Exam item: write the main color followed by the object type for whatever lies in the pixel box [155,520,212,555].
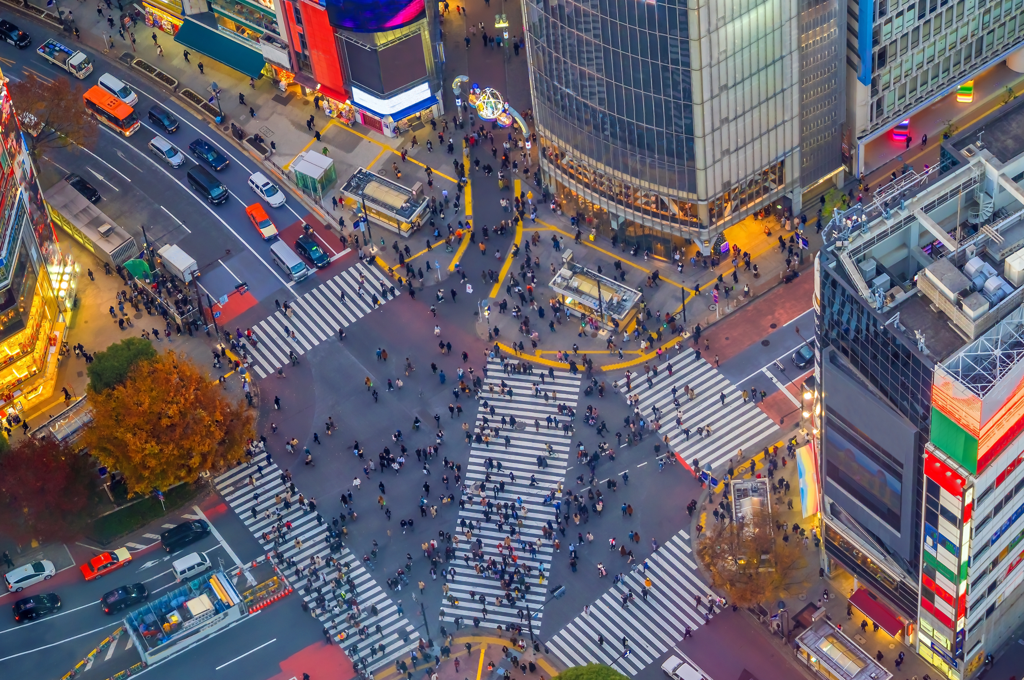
black van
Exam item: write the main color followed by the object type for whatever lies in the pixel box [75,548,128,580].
red car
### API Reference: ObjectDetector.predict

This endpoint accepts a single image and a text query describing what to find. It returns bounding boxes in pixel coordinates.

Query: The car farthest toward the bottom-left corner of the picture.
[6,592,60,623]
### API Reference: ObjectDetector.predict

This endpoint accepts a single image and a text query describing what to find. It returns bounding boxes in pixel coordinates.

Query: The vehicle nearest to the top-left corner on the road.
[0,15,31,47]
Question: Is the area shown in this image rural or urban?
urban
